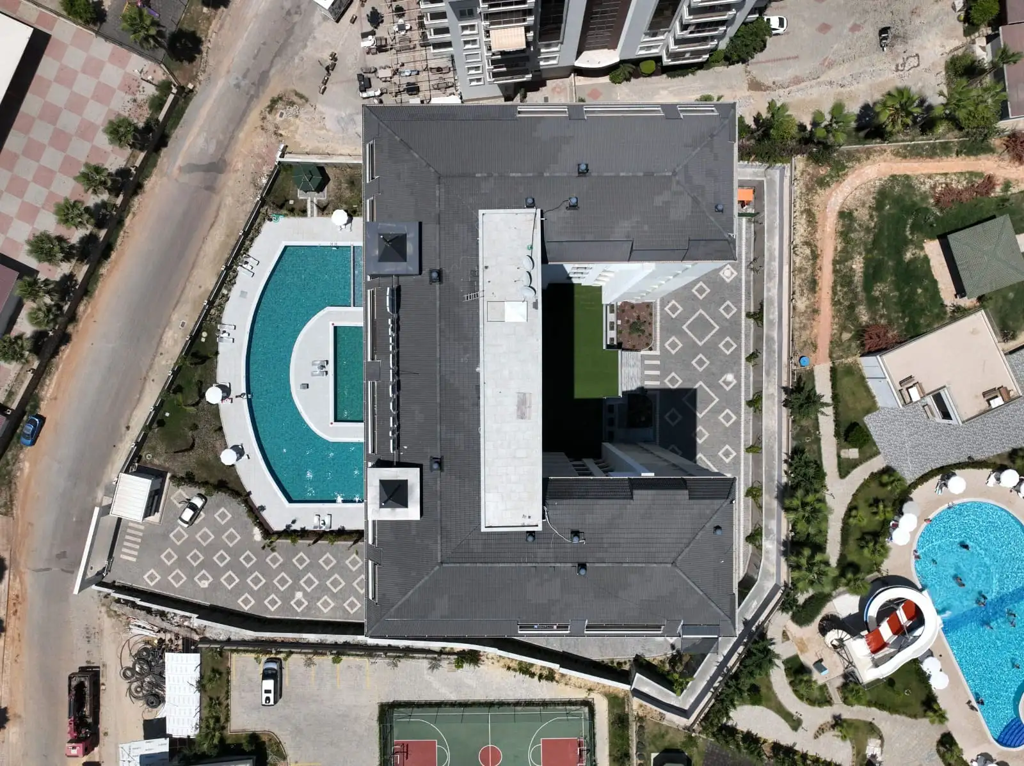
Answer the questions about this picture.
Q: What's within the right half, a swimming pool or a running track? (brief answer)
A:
swimming pool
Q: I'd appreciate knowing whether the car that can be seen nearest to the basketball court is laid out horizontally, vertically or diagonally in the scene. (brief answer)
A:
vertically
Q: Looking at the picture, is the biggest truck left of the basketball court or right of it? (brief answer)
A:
to the left of it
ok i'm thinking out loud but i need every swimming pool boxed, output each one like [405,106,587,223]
[243,240,364,507]
[331,322,364,426]
[912,497,1024,752]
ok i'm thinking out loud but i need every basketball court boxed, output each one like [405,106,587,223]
[384,706,591,766]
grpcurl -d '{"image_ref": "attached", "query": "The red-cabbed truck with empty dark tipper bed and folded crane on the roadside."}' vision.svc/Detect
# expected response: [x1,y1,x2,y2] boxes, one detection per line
[63,663,101,756]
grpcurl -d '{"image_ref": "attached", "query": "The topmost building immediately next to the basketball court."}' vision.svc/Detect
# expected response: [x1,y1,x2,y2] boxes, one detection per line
[362,102,738,639]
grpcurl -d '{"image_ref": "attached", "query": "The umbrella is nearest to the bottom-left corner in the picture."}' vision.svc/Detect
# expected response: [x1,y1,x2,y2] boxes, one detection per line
[219,447,239,465]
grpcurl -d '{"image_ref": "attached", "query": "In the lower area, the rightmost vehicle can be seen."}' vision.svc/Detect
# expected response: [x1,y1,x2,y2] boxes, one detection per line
[259,659,281,708]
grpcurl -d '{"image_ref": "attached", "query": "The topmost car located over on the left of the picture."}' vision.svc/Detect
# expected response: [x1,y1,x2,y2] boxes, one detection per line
[17,411,44,448]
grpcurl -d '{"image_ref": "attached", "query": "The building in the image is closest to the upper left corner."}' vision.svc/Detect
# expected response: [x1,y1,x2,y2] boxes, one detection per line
[0,10,49,127]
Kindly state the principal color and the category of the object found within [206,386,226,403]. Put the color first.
white umbrella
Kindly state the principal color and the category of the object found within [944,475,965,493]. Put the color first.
white umbrella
